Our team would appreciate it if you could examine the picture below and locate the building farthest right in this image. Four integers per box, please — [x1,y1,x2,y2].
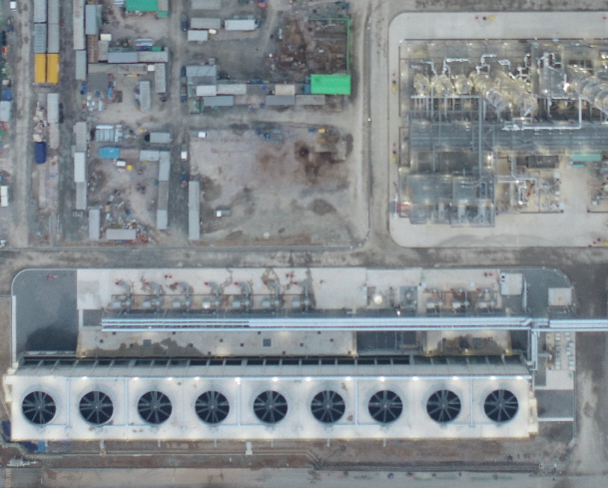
[547,285,573,306]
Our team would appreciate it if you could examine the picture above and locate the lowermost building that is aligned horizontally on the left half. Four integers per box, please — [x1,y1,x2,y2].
[105,227,137,240]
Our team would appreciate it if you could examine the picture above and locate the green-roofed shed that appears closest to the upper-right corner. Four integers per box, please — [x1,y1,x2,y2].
[310,73,350,95]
